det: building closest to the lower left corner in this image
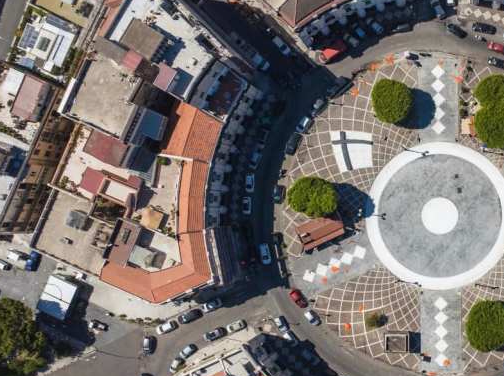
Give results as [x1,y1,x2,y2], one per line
[39,274,82,320]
